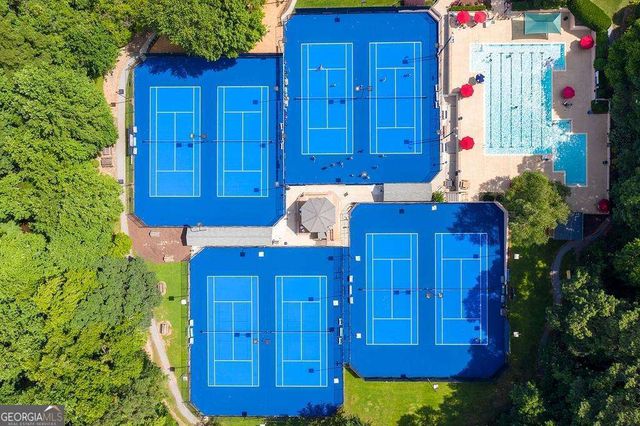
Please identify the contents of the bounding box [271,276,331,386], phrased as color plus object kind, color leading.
blue tennis court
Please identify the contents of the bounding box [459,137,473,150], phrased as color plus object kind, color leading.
red umbrella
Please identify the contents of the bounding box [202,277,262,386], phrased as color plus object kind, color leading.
blue tennis court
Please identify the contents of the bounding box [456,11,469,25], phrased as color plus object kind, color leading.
red umbrella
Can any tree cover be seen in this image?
Yes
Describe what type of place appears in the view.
sports ground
